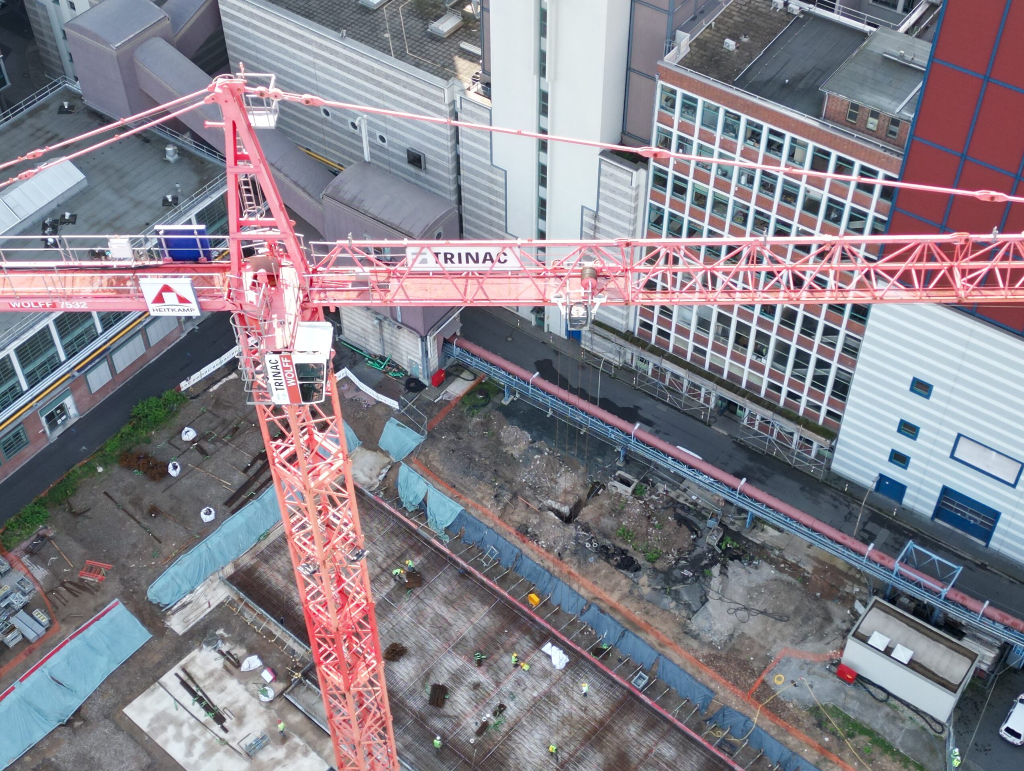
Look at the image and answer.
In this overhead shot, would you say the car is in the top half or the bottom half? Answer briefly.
bottom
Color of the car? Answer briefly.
white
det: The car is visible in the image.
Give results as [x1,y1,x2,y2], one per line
[999,683,1024,743]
